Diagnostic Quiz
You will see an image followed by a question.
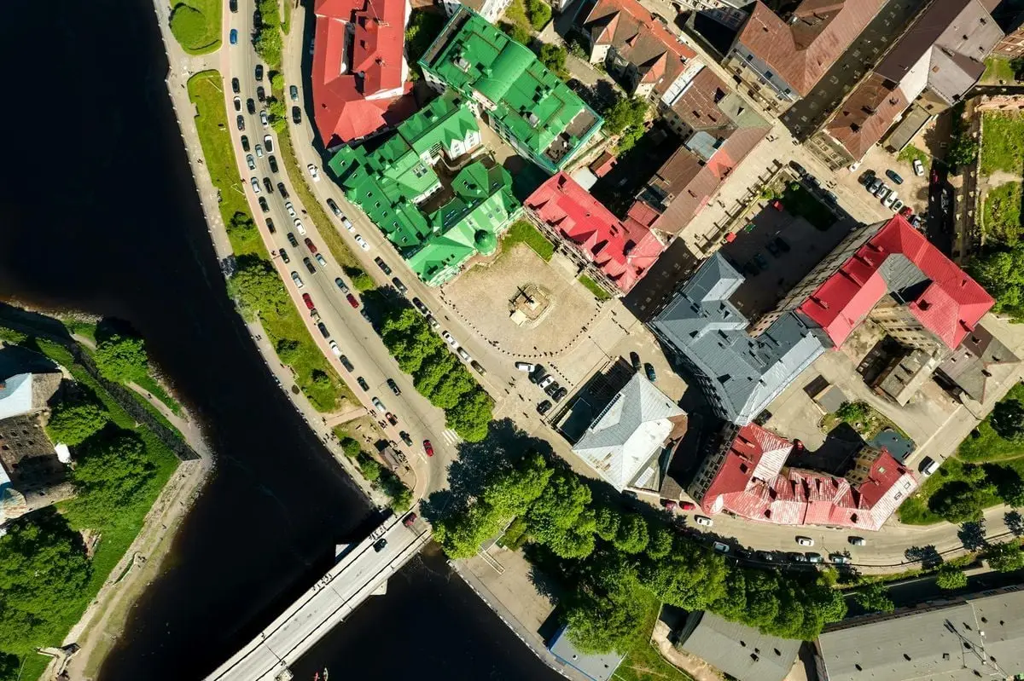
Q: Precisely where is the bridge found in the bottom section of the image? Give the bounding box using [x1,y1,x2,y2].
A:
[197,504,435,681]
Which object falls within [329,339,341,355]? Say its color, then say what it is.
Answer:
white vehicle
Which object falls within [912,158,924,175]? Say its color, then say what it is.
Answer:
white vehicle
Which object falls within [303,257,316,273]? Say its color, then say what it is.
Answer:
black vehicle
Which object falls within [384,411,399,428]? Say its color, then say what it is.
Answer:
red vehicle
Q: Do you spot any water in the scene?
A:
Yes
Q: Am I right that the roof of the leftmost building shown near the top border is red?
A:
Yes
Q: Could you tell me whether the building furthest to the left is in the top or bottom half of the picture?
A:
bottom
